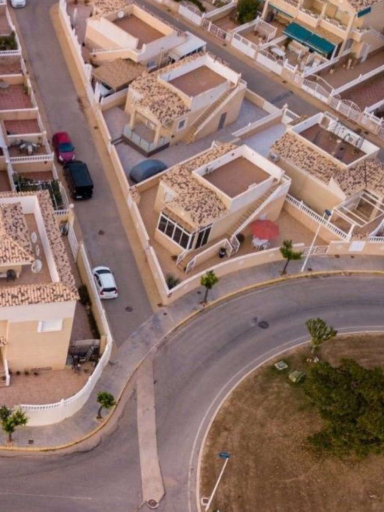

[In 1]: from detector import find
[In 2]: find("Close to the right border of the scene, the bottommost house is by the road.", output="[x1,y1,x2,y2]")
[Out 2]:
[269,112,384,218]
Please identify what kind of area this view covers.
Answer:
residential area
